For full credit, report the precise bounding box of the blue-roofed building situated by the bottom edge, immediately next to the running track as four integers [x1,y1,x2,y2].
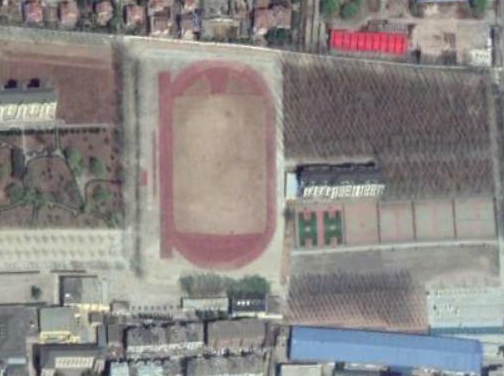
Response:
[287,325,483,374]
